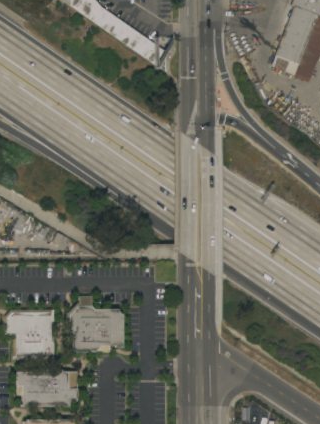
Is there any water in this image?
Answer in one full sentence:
No, the picture contains no water.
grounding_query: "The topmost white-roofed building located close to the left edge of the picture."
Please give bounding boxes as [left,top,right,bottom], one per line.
[6,310,54,358]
